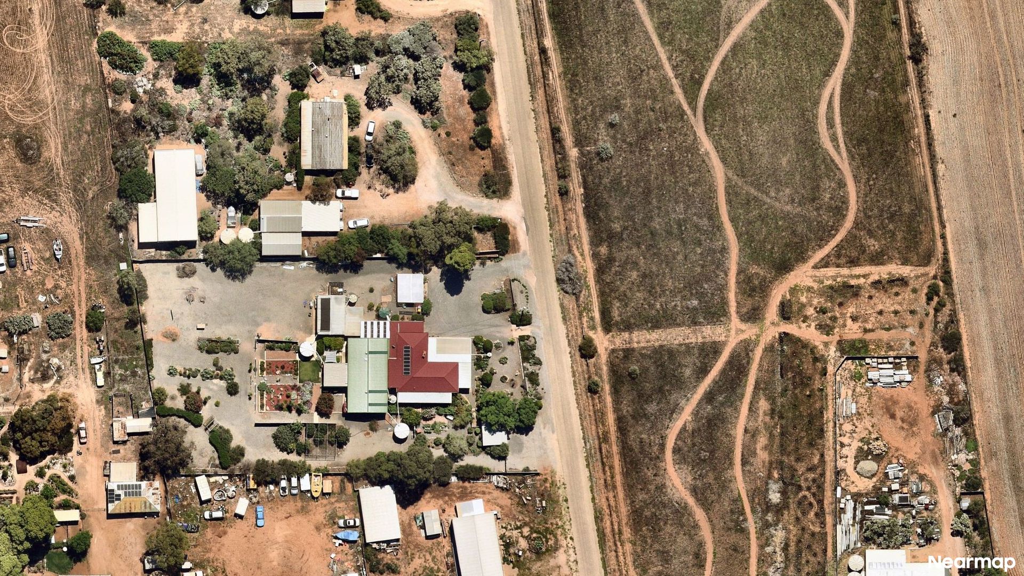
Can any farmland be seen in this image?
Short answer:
Yes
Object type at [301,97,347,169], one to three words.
house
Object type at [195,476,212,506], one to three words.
camper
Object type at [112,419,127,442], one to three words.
shed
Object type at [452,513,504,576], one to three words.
shed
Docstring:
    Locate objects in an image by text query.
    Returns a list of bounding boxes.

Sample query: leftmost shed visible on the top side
[138,149,197,243]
